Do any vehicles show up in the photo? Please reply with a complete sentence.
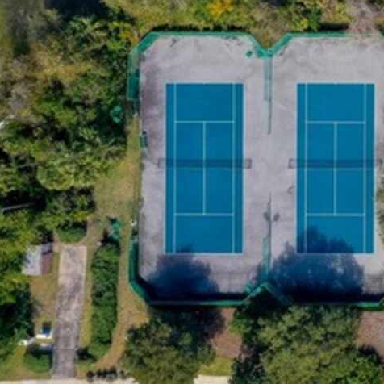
No, the picture doesn't show any vehicle.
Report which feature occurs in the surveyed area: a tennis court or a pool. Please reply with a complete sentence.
Of the two, only a tennis court appears.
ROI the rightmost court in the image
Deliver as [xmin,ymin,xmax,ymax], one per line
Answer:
[272,36,384,299]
